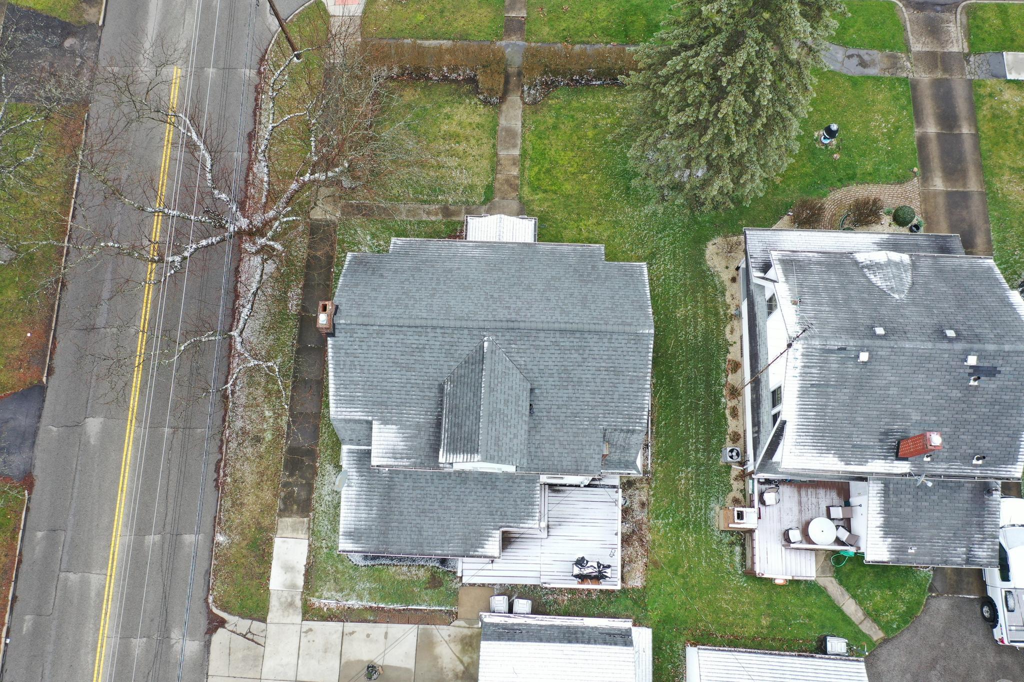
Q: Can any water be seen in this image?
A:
No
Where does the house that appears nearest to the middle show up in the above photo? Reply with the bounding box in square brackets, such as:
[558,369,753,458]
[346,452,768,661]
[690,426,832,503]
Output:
[313,211,654,564]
